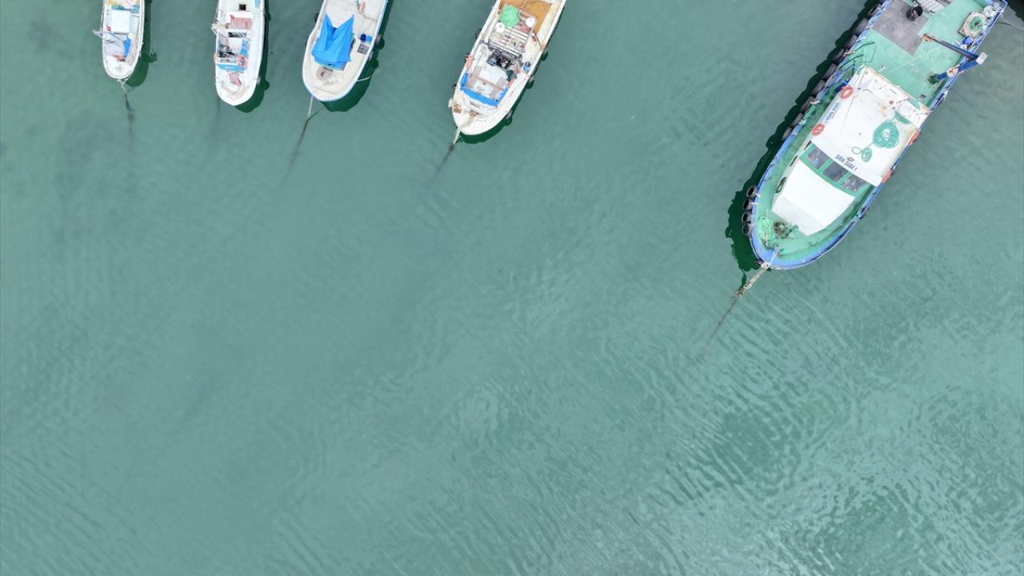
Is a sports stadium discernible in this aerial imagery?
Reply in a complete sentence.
No, I can't see a single sports stadium in this photo.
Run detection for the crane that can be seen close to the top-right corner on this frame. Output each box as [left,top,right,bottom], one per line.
[914,32,987,84]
